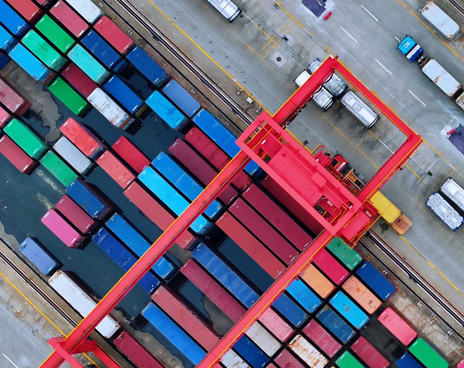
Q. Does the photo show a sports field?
No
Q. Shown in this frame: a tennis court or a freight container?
freight container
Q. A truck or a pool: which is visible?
truck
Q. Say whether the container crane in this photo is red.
Yes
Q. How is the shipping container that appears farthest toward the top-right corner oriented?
diagonally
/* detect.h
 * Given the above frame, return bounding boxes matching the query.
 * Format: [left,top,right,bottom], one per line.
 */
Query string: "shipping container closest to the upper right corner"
[420,1,460,41]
